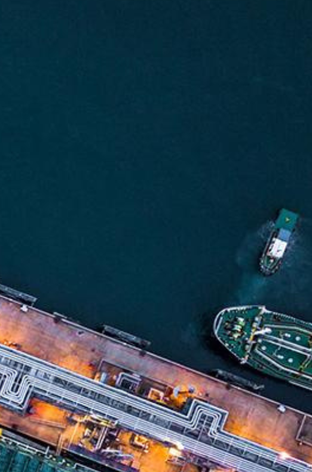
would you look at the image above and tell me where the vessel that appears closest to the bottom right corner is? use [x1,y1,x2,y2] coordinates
[210,305,312,392]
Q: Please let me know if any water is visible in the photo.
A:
Yes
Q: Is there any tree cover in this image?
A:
No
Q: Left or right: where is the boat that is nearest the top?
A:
right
